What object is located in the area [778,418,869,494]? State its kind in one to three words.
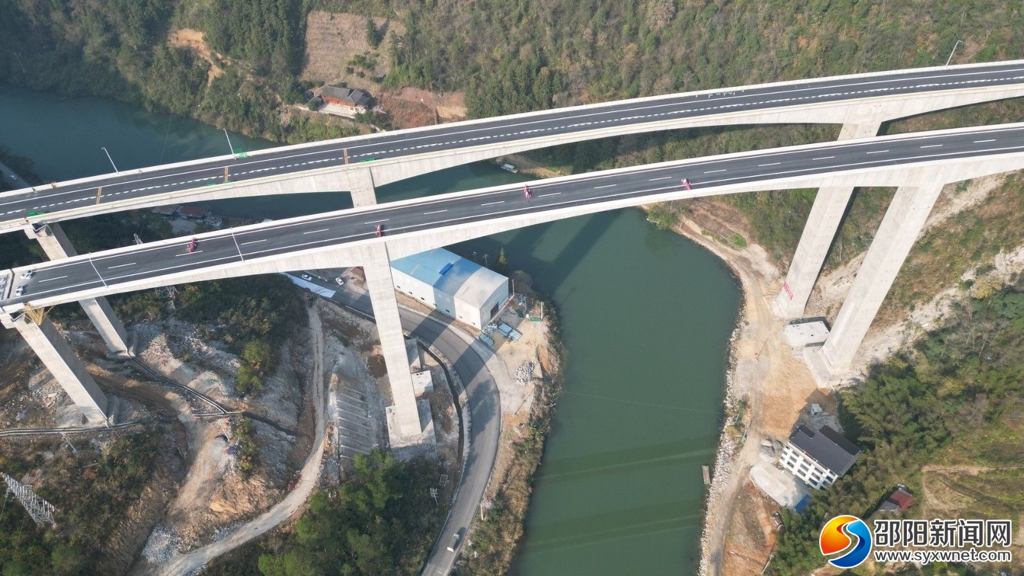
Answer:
building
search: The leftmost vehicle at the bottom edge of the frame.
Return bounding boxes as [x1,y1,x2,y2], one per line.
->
[446,527,463,556]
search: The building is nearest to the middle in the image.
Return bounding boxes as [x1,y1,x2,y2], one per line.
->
[392,247,508,329]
